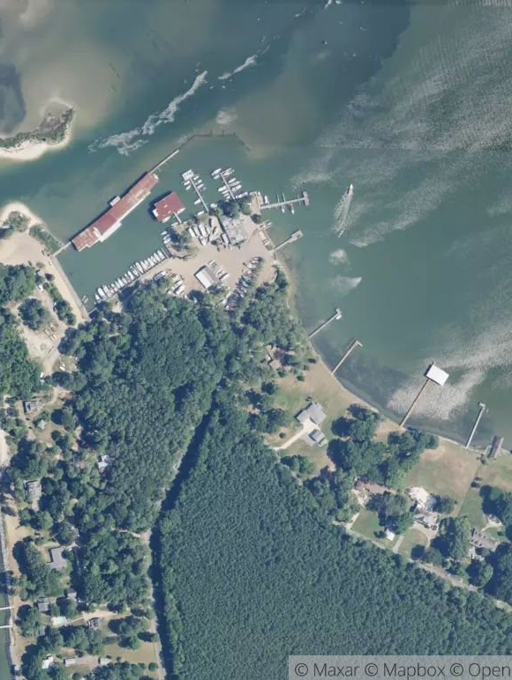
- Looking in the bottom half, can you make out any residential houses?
Yes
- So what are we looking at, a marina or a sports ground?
marina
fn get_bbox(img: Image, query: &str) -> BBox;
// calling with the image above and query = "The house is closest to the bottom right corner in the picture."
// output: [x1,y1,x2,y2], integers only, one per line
[470,526,501,552]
